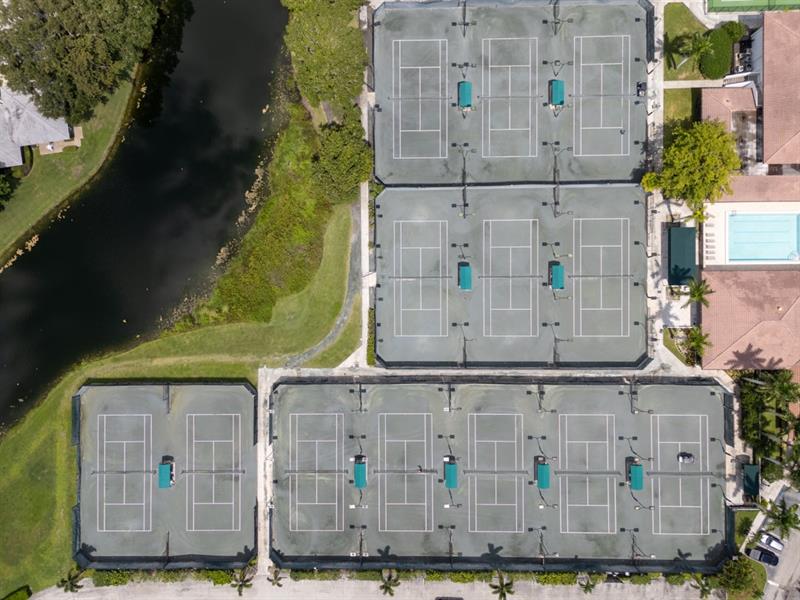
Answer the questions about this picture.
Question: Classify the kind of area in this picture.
sports ground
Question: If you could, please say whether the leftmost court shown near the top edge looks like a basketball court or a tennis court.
tennis court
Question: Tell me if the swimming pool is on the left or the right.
right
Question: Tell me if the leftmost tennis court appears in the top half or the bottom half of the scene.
bottom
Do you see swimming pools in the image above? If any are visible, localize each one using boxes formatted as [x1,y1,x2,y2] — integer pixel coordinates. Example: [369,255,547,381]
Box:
[726,210,800,266]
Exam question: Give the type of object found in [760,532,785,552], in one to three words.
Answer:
car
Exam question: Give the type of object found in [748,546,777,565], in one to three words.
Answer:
vehicle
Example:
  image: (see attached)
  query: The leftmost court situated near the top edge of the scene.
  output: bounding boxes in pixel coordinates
[376,8,464,186]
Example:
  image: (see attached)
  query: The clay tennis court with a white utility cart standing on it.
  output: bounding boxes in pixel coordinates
[633,386,727,566]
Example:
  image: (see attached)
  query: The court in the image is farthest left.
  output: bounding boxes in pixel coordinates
[80,386,168,562]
